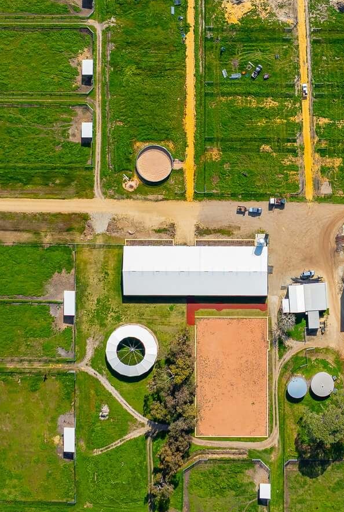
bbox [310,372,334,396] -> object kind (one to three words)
water tank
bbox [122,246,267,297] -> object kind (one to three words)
barn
